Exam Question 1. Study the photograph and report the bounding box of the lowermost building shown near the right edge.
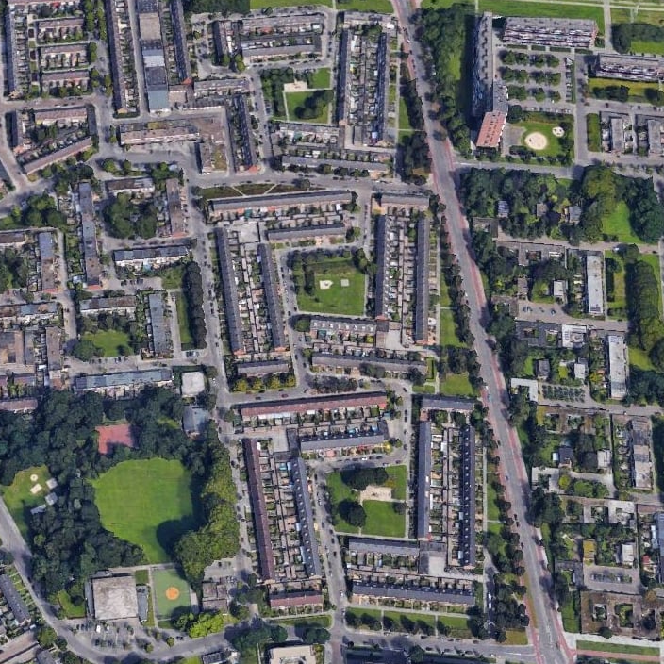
[579,591,664,640]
